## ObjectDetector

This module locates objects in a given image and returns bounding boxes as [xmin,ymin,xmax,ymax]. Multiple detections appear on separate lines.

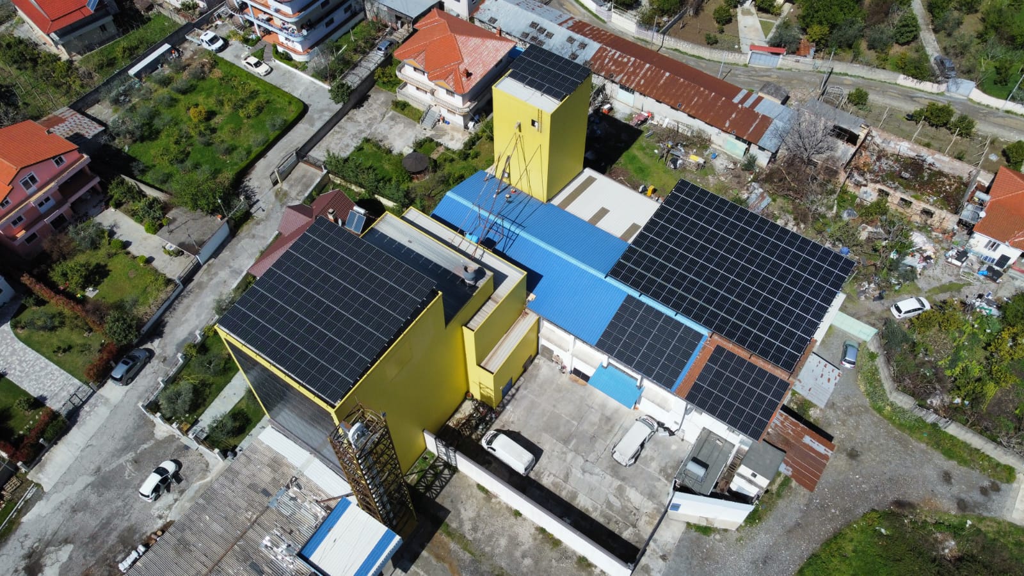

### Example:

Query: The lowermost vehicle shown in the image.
[134,457,182,502]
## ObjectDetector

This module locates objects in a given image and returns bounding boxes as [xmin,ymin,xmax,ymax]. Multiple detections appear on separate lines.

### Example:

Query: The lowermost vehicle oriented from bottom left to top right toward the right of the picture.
[613,413,660,463]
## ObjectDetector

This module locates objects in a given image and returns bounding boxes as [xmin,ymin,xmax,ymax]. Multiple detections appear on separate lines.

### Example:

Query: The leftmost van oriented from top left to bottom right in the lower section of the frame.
[480,429,537,476]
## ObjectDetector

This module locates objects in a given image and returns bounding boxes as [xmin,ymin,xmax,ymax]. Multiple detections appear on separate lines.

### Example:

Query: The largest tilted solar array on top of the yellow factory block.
[222,217,436,405]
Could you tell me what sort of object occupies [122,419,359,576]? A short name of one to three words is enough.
shed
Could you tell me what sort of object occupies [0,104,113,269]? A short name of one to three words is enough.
house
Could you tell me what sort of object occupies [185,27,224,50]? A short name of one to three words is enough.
truck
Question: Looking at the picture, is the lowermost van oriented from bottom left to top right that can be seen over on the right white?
Yes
